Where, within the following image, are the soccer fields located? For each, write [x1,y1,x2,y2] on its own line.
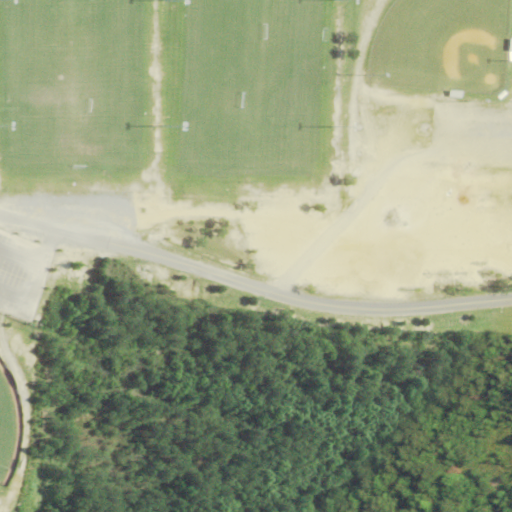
[172,0,330,190]
[0,0,150,184]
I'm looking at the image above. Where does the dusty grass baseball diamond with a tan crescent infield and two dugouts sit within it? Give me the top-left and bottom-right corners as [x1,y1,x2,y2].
[364,0,510,102]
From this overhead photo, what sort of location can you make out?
sports ground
